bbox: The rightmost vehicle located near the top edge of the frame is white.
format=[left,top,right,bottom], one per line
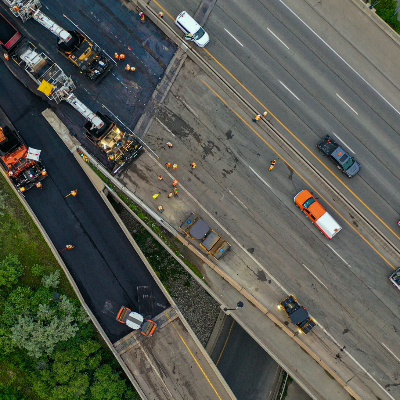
[175,10,211,49]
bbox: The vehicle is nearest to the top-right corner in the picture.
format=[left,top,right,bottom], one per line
[315,134,360,178]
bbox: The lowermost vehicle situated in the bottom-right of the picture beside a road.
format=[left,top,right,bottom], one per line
[278,293,318,336]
